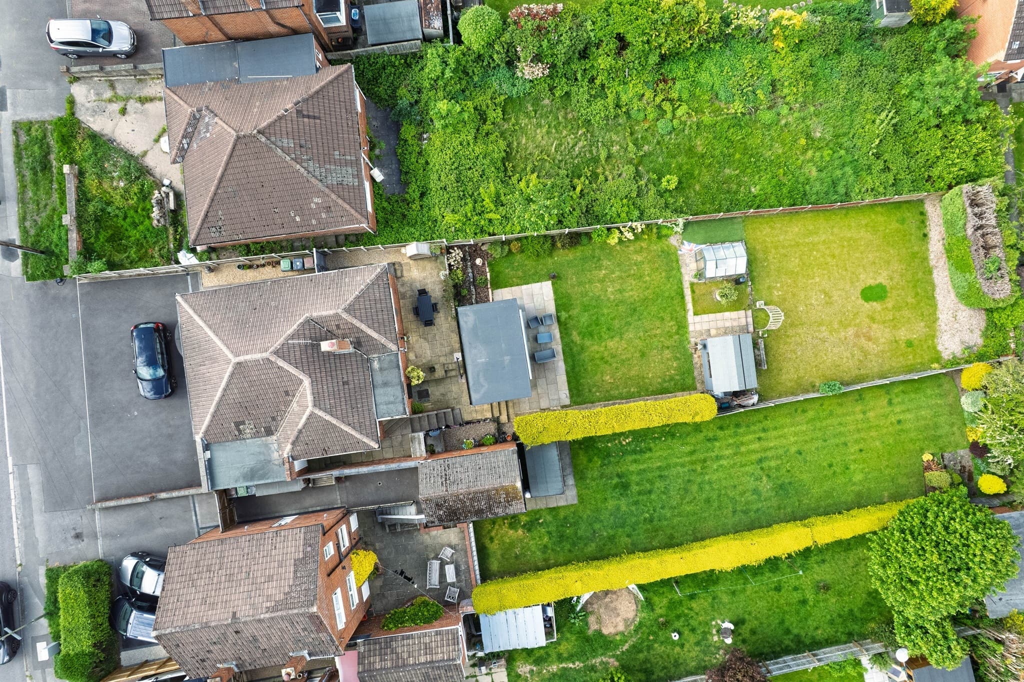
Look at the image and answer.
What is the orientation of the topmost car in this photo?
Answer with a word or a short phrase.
from side to side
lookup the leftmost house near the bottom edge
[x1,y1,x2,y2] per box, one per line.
[151,504,373,682]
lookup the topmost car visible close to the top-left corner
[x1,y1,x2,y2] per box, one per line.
[52,21,134,63]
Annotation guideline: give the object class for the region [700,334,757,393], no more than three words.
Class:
shed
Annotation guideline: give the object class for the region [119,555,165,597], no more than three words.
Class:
car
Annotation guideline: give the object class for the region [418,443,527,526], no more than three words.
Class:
building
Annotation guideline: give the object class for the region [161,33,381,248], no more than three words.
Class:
house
